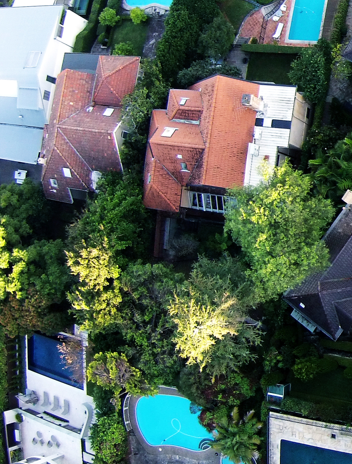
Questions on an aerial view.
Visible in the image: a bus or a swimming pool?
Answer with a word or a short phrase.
swimming pool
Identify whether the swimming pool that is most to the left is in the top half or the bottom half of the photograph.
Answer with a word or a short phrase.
bottom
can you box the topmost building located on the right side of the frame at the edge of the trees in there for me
[142,74,309,228]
